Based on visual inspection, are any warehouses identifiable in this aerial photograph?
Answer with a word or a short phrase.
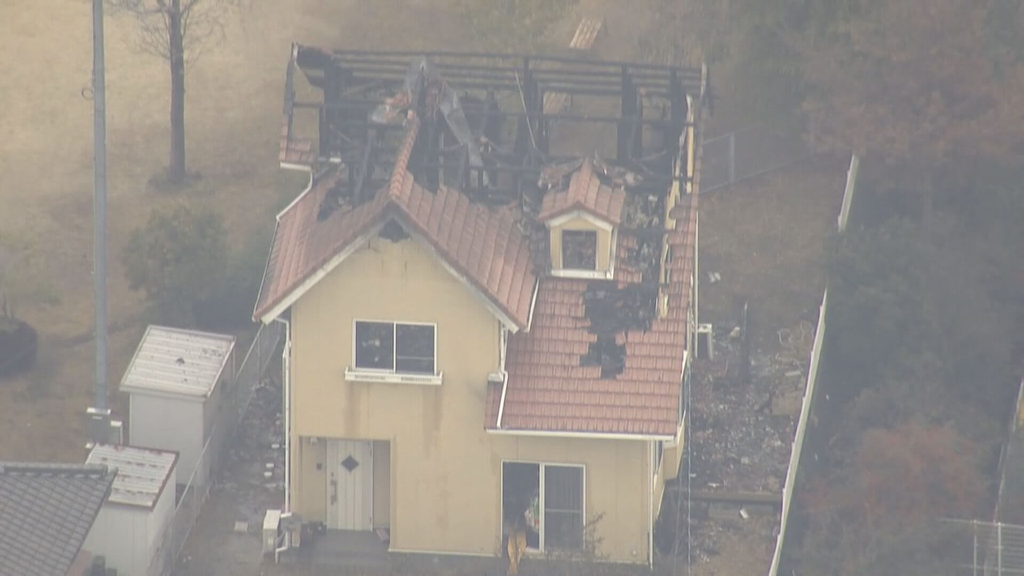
No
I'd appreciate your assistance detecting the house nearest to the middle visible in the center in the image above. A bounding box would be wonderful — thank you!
[249,44,706,576]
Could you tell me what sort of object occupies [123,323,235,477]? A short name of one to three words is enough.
shed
